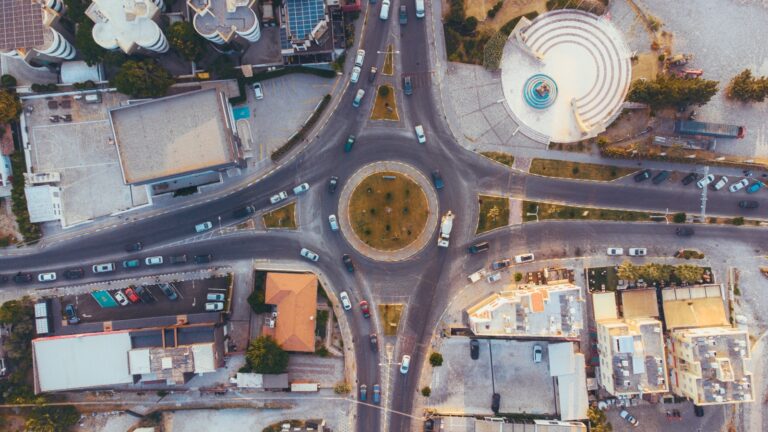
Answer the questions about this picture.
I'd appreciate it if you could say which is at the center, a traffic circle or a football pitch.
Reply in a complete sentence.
What appears at the center is a traffic circle.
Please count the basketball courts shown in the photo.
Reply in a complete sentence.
Only 1 basketball court is visible.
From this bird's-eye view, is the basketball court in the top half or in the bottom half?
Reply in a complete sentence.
The basketball court is in the top half of the image.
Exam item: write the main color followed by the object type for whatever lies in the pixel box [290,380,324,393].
white vehicle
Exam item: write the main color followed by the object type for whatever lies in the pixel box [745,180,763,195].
blue car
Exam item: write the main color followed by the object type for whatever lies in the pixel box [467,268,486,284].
white vehicle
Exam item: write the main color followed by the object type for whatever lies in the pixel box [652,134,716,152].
gray trailer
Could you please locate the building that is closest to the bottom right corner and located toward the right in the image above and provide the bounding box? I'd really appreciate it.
[674,326,756,406]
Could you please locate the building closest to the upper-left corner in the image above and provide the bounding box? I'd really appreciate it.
[0,0,82,68]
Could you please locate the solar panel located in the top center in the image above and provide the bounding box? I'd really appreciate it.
[289,0,325,38]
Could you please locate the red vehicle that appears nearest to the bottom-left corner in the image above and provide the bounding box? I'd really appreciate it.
[125,287,140,303]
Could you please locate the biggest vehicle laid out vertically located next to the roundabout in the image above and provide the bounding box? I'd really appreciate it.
[438,212,454,248]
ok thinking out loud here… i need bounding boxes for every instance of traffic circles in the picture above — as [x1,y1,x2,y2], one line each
[338,161,439,261]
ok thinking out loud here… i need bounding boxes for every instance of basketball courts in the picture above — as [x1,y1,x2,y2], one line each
[32,119,119,170]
